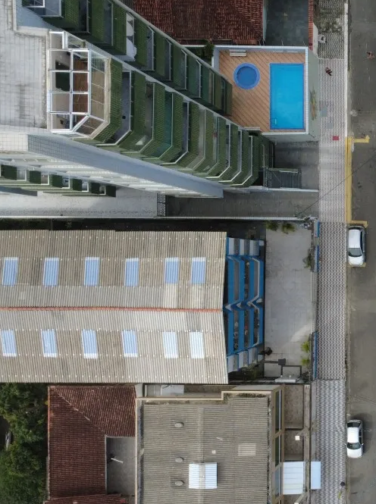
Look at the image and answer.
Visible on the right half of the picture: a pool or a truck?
pool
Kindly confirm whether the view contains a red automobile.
No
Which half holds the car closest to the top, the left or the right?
right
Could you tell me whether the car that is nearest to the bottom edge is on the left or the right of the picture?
right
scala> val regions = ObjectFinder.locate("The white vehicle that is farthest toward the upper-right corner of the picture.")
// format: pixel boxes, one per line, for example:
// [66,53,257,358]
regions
[344,225,368,267]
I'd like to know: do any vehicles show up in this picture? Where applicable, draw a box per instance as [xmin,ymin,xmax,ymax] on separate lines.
[344,225,368,267]
[344,419,366,459]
